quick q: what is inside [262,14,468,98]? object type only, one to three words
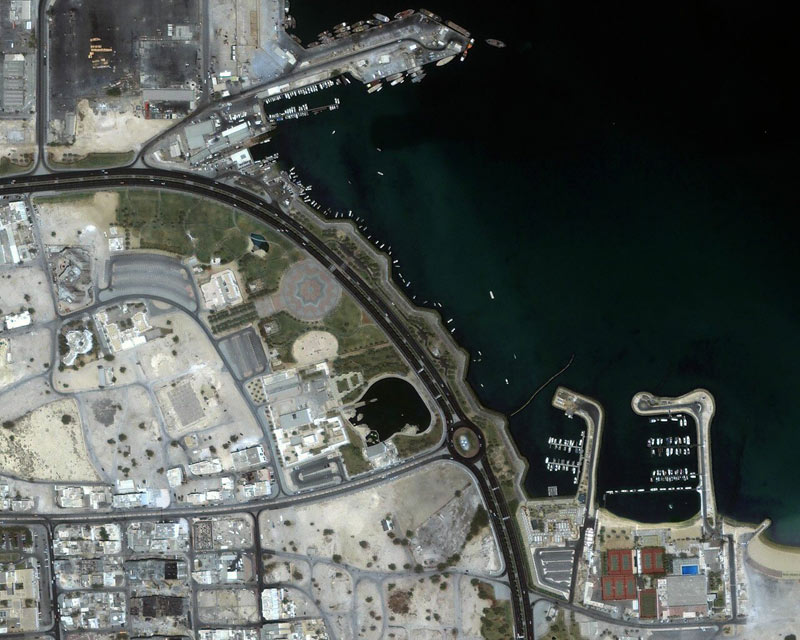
pier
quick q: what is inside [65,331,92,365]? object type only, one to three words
house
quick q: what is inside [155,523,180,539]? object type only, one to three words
building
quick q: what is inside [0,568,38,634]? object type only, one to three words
building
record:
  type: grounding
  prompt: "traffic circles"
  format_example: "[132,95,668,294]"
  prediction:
[447,421,485,464]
